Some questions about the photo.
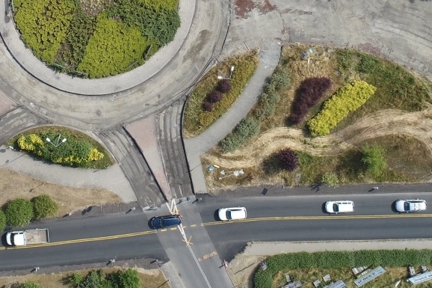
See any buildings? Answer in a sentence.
No, there's no building here.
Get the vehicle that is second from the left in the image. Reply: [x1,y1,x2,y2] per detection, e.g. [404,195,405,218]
[149,214,180,227]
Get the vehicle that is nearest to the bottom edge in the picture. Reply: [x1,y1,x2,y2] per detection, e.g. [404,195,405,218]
[6,231,49,248]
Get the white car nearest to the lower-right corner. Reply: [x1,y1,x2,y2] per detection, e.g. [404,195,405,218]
[393,199,425,213]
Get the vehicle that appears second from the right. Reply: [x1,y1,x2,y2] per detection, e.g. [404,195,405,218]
[325,200,354,213]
